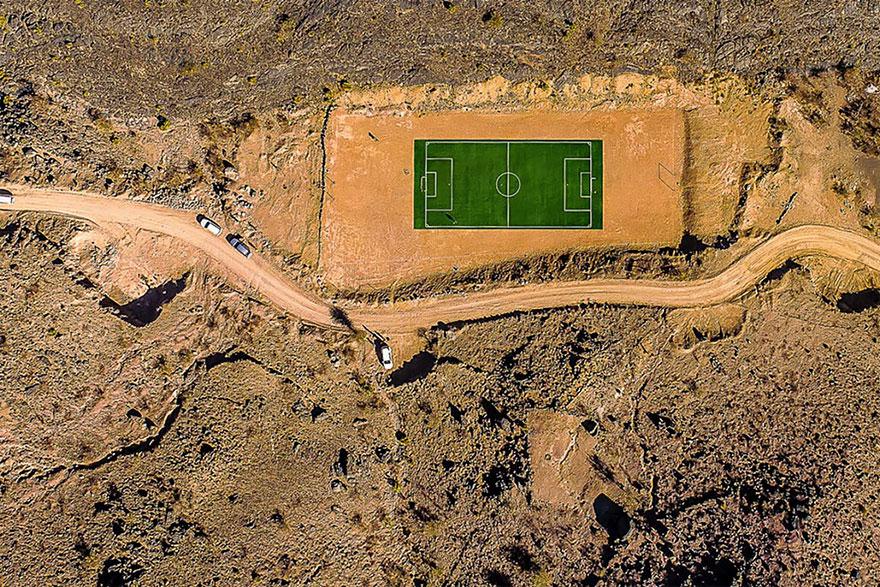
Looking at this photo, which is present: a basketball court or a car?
car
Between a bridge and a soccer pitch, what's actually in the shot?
soccer pitch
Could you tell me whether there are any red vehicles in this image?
No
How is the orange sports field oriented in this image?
from left to right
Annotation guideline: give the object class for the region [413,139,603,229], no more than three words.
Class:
soccer field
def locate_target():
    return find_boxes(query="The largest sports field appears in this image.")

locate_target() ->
[321,107,687,287]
